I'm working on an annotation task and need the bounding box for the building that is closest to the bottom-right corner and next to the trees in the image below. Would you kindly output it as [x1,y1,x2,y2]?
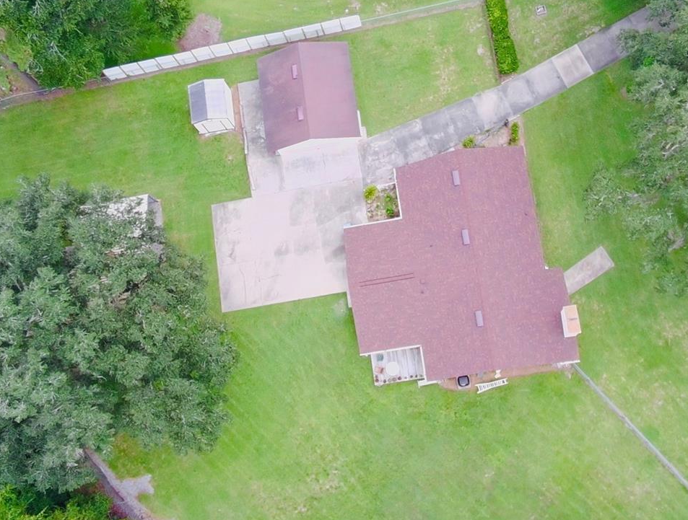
[344,148,581,384]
